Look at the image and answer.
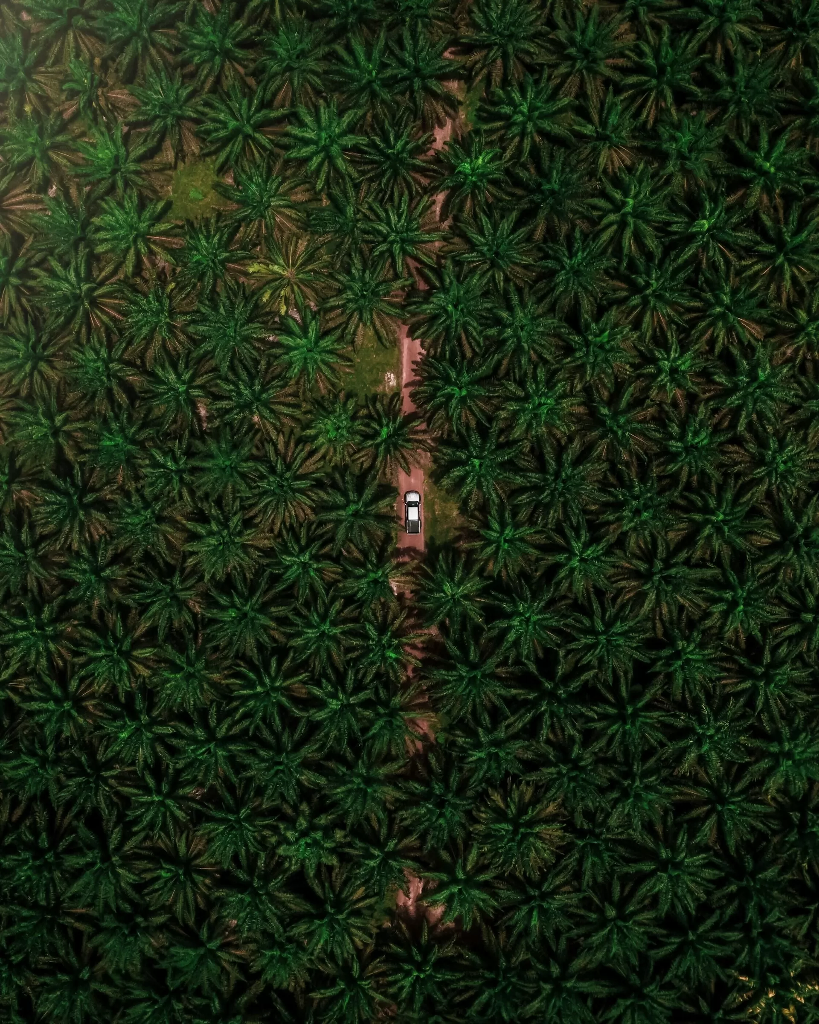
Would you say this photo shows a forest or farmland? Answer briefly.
forest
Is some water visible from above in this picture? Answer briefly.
No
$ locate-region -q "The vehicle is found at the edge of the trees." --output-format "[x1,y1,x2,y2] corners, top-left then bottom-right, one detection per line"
[404,491,422,534]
